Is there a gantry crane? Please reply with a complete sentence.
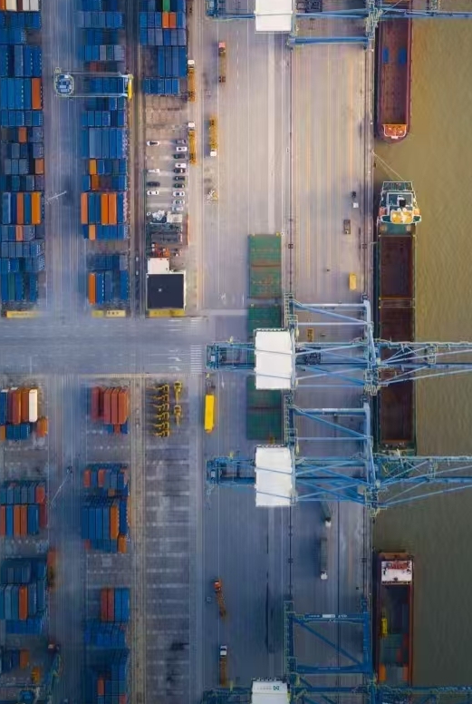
Yes, there's a gantry crane here.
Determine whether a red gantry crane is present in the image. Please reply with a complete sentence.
No, I find no red gantry crane anywhere in the image.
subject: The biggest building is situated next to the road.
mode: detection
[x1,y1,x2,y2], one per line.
[148,272,187,308]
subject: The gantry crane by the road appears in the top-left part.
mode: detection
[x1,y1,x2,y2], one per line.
[52,62,136,111]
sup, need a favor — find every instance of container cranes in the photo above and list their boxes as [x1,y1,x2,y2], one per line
[52,62,136,111]
[208,604,472,704]
[205,0,472,60]
[207,291,472,397]
[207,395,472,519]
